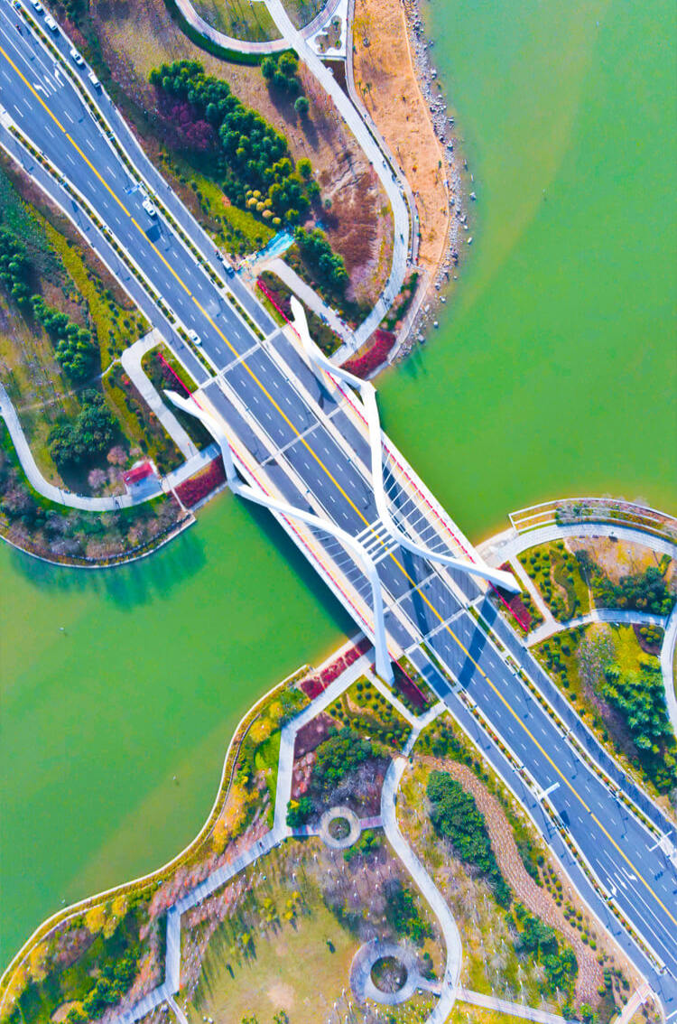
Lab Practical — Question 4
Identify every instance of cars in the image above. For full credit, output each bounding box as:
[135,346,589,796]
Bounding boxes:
[142,199,156,215]
[30,0,44,13]
[69,48,84,64]
[43,15,57,31]
[187,328,201,344]
[86,71,101,87]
